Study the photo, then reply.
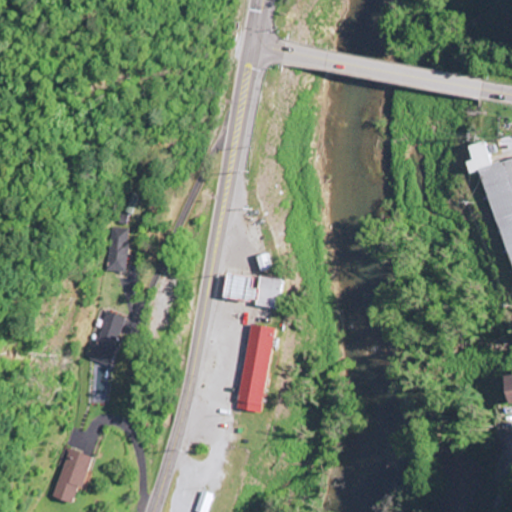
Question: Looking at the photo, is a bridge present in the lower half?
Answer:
No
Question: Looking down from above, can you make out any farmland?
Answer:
No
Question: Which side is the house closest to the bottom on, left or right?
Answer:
left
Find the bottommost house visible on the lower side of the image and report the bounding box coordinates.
[52,448,94,504]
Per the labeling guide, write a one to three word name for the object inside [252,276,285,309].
building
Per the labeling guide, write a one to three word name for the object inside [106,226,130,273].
house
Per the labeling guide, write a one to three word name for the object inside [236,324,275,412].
building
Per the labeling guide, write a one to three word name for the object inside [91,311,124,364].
house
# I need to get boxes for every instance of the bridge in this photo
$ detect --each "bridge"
[282,32,488,108]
